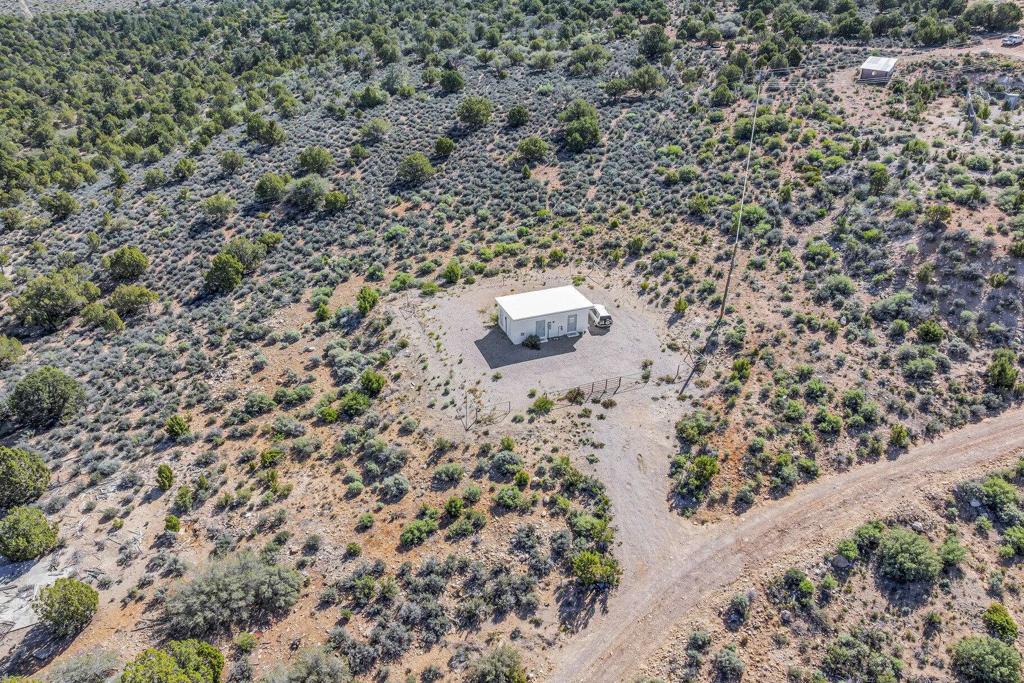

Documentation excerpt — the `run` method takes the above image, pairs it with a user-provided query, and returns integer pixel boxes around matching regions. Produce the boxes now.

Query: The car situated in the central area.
[592,304,615,324]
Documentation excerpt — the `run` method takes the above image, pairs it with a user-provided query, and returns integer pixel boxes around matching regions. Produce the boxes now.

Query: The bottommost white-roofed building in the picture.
[495,286,594,345]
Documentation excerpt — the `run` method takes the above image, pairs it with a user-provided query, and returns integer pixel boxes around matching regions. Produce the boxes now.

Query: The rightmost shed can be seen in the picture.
[859,55,910,80]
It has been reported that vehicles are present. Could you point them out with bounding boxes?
[1003,37,1024,45]
[592,304,615,324]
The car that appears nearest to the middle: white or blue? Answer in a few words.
white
